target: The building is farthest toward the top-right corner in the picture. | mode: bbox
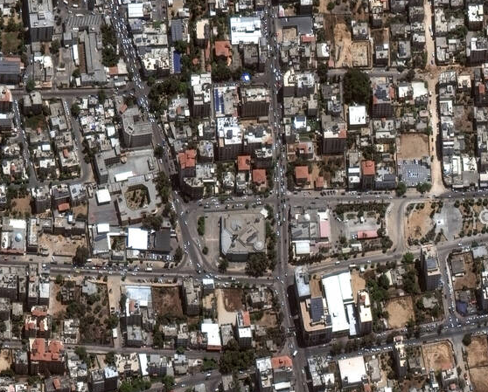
[467,4,482,29]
